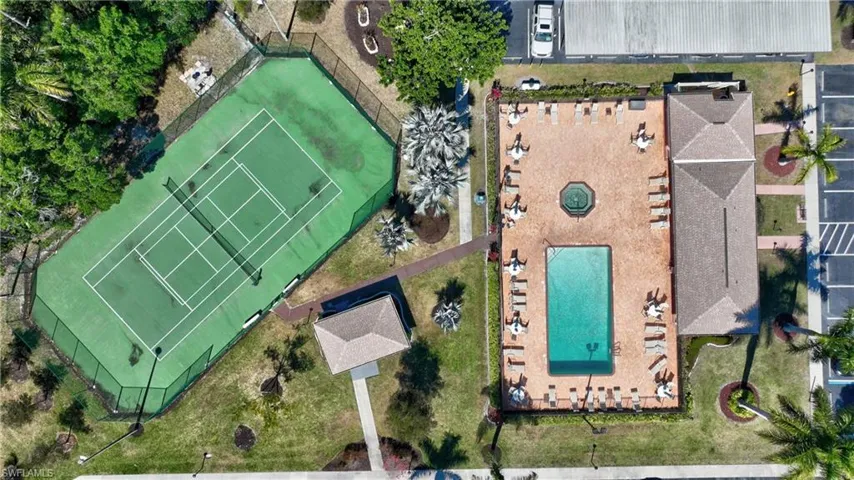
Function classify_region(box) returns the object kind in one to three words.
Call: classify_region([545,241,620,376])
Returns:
swimming pool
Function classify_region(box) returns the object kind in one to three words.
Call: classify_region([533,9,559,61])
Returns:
car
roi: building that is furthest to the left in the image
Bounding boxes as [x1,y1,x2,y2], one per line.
[314,294,412,374]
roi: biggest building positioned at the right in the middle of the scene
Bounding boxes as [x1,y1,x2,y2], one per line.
[662,91,760,335]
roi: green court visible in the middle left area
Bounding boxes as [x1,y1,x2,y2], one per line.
[33,58,394,413]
